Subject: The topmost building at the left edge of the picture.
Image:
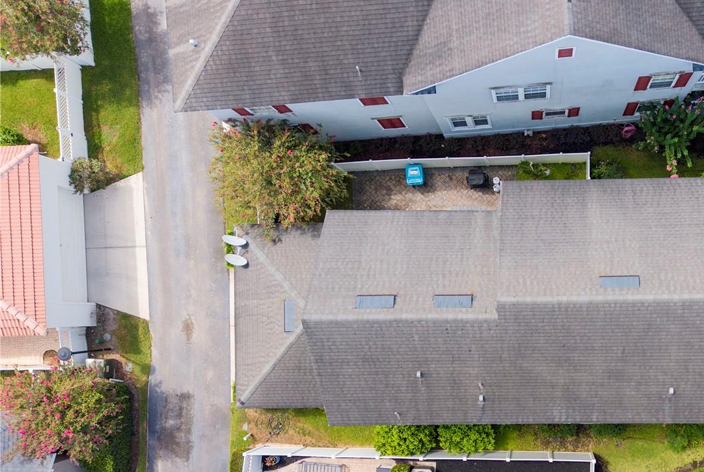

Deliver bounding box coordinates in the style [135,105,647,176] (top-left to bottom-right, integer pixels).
[0,141,97,334]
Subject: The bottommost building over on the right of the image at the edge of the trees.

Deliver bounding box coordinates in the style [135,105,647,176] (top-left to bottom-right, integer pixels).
[233,178,704,423]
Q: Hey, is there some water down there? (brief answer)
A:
No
